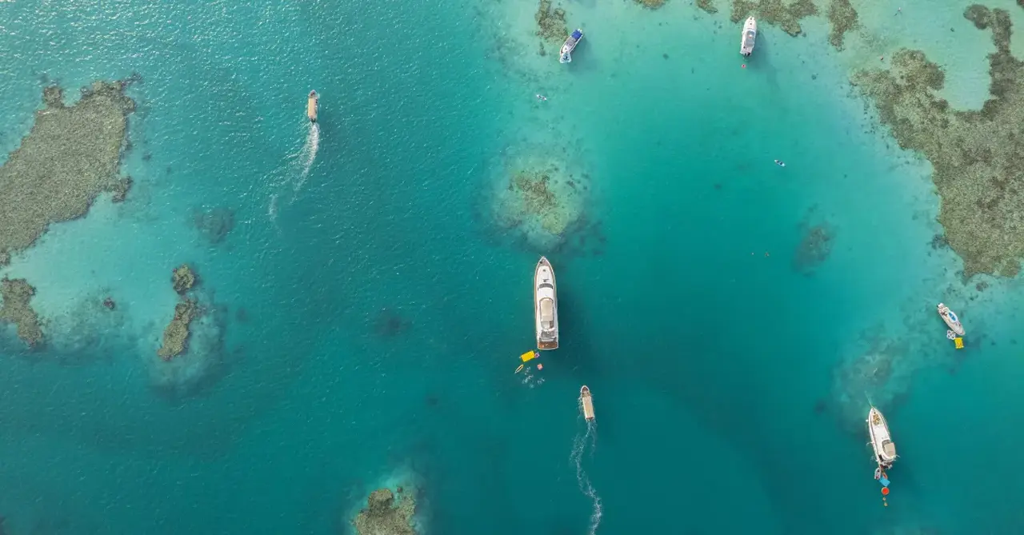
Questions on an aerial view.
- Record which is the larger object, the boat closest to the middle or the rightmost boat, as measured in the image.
the boat closest to the middle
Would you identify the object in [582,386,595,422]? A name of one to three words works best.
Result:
boat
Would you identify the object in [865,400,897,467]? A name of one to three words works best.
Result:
boat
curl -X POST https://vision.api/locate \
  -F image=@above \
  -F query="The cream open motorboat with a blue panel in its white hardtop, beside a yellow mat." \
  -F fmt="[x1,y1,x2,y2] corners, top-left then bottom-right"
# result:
[934,306,965,333]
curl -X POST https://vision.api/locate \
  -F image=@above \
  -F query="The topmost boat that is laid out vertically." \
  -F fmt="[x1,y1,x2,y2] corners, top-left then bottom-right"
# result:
[740,16,756,57]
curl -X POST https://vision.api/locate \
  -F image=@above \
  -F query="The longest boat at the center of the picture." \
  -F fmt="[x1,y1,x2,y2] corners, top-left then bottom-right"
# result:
[534,252,558,350]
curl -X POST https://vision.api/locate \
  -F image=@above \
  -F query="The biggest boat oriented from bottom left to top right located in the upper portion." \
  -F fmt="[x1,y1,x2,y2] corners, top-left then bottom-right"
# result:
[563,27,582,54]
